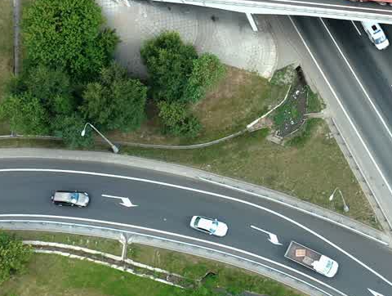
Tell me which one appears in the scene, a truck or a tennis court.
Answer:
truck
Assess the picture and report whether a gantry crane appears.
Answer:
No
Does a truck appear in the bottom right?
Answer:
Yes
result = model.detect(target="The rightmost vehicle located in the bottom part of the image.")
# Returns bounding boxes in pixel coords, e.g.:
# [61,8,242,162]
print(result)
[284,240,341,278]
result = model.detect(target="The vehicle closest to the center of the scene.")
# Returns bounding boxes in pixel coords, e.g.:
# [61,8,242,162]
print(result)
[188,214,230,237]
